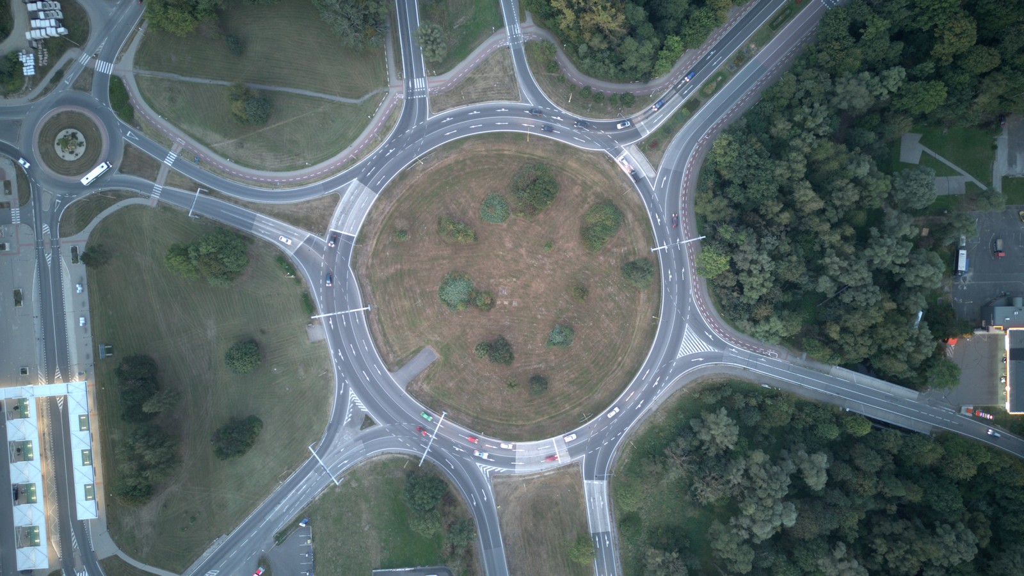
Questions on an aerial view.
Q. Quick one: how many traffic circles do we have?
2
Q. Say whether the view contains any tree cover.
Yes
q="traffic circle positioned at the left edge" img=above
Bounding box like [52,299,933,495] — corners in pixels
[17,88,123,201]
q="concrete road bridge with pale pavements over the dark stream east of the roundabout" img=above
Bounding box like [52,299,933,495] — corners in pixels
[830,357,937,437]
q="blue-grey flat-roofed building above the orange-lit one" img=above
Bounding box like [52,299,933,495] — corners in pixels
[974,294,1024,333]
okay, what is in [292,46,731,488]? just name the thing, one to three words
roundabout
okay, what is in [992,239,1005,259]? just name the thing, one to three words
vehicle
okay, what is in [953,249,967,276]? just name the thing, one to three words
vehicle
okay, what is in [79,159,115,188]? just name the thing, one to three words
bus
